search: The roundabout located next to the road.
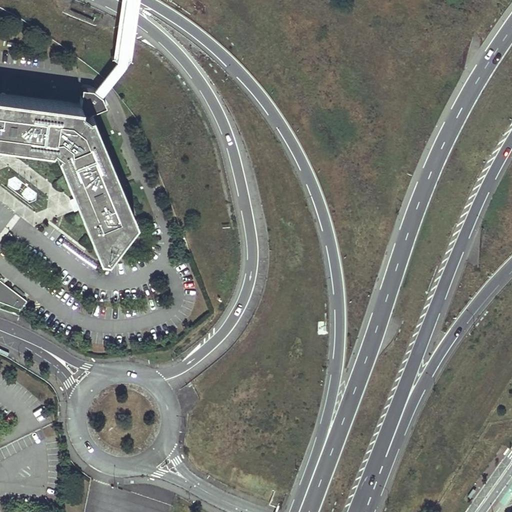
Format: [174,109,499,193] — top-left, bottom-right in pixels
[66,363,182,478]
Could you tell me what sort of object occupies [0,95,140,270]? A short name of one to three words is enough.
building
